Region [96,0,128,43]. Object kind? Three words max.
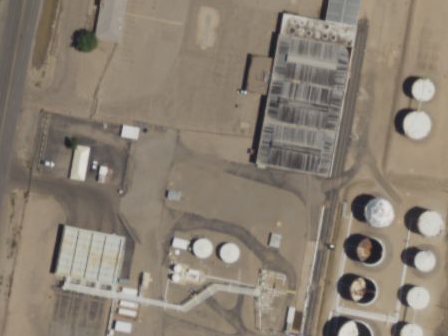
building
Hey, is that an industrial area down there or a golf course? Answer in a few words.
industrial area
